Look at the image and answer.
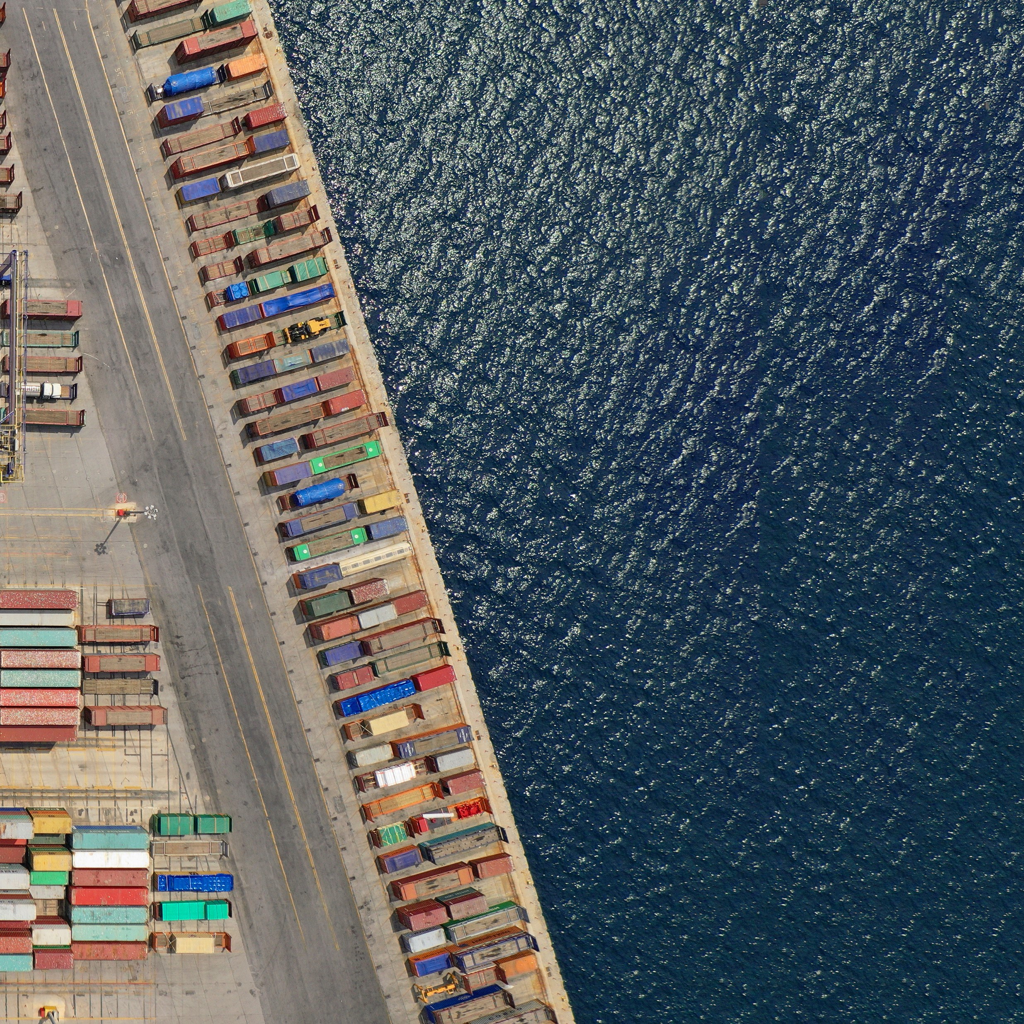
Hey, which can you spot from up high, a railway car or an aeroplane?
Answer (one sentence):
There is a railway car in the scene.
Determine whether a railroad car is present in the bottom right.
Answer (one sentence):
No, I see no railroad car in the bottom right.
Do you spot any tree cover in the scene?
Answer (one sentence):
No, no tree cover is visible.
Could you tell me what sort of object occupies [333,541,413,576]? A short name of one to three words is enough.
rail car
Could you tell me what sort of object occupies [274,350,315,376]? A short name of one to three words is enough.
shipping container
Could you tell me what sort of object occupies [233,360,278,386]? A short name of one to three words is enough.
shipping container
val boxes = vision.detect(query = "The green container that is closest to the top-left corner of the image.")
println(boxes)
[208,0,253,27]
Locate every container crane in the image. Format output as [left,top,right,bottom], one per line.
[0,250,29,483]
